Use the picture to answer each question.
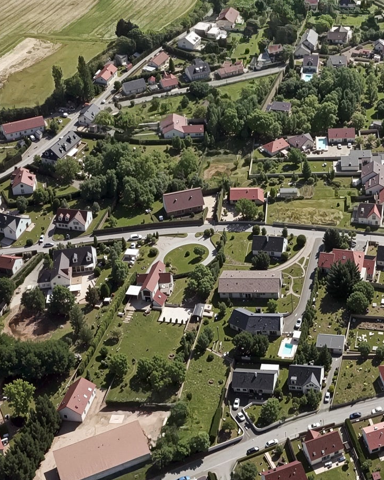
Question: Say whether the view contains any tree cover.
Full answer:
Yes, there's tree cover in this view.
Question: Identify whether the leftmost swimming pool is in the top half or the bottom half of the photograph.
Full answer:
The bottom half of the photo is where the leftmost swimming pool is.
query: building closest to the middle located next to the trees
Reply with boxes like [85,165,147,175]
[164,186,204,218]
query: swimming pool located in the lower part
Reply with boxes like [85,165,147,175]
[278,337,298,358]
